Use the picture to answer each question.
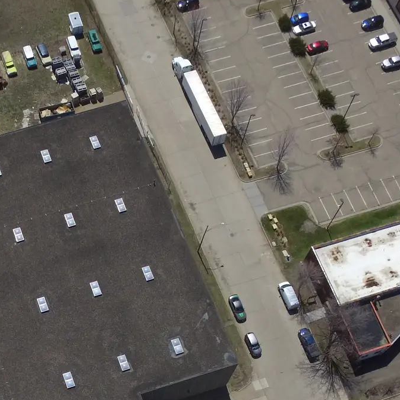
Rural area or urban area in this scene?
urban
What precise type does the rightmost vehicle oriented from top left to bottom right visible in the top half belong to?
truck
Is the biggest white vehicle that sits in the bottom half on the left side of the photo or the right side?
right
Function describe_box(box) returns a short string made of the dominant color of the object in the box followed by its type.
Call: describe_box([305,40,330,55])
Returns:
red car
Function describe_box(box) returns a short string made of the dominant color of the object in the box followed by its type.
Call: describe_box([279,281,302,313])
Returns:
white vehicle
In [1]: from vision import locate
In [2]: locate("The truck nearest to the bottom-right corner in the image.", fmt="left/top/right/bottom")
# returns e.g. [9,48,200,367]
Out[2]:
[299,329,321,362]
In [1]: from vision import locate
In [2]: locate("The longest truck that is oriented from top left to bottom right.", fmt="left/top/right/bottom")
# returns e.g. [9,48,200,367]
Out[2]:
[169,55,233,143]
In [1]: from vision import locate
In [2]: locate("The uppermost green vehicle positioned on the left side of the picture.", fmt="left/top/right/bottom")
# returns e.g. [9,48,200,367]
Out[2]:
[87,29,103,53]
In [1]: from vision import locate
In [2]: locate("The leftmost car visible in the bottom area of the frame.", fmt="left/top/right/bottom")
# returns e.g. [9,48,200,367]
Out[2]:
[228,295,245,322]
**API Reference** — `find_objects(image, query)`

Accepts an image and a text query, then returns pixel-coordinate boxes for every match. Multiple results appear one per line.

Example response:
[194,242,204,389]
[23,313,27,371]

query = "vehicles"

[305,40,330,55]
[87,29,103,53]
[0,68,6,86]
[279,281,302,313]
[299,329,321,362]
[169,55,233,143]
[291,21,318,37]
[359,16,386,30]
[176,0,202,12]
[379,53,400,71]
[245,334,261,359]
[228,295,245,322]
[292,11,311,26]
[367,30,400,49]
[347,0,373,12]
[67,33,81,59]
[1,52,17,77]
[37,42,52,67]
[22,46,37,70]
